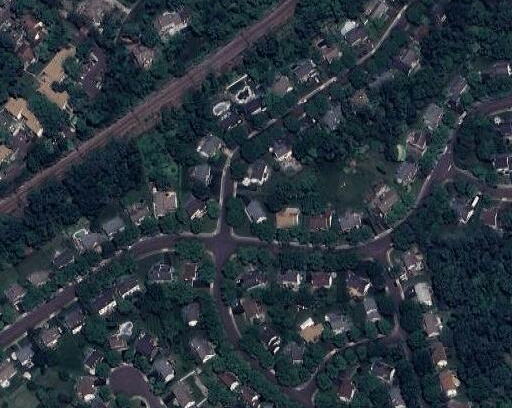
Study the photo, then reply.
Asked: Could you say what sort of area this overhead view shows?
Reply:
residential area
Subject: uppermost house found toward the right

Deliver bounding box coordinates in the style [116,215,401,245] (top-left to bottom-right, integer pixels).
[367,0,390,22]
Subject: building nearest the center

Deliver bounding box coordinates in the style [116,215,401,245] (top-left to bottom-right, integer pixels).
[244,199,268,225]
